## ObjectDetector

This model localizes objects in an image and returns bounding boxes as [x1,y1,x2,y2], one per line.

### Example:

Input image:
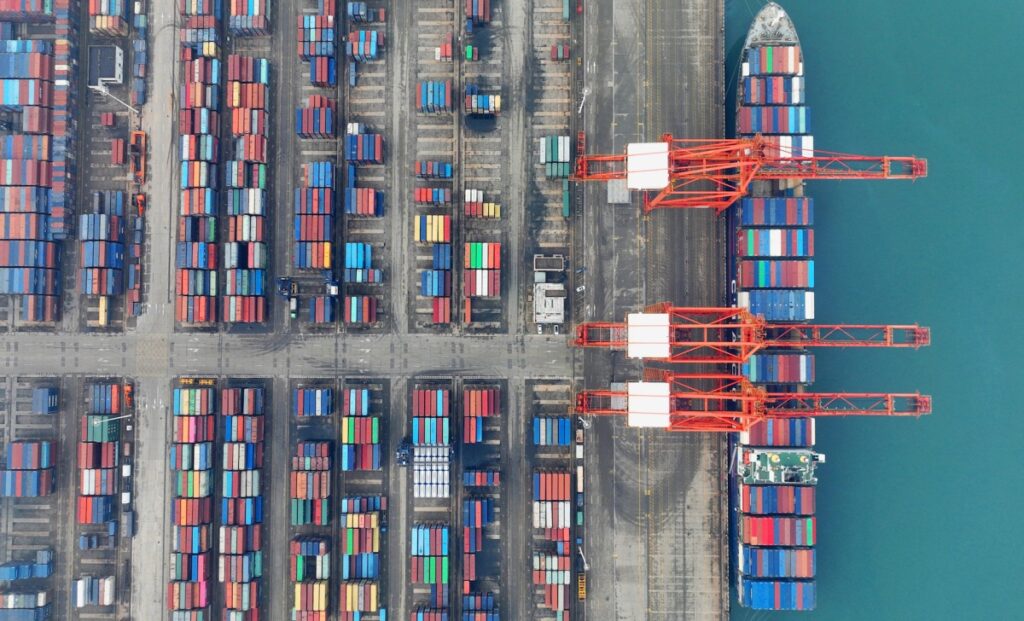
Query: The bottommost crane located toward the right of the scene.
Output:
[572,362,930,432]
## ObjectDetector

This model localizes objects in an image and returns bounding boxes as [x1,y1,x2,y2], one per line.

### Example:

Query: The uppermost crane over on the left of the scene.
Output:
[269,271,347,299]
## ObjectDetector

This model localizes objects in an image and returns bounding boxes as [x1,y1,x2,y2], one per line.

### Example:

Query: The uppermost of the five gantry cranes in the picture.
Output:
[571,130,925,221]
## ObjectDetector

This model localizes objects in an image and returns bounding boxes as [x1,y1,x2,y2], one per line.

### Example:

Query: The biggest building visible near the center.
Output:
[535,283,567,323]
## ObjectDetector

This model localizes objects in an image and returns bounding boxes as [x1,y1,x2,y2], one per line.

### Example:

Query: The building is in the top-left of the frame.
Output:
[87,44,123,102]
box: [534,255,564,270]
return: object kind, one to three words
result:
building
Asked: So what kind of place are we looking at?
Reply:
port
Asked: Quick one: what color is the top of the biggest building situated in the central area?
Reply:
white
